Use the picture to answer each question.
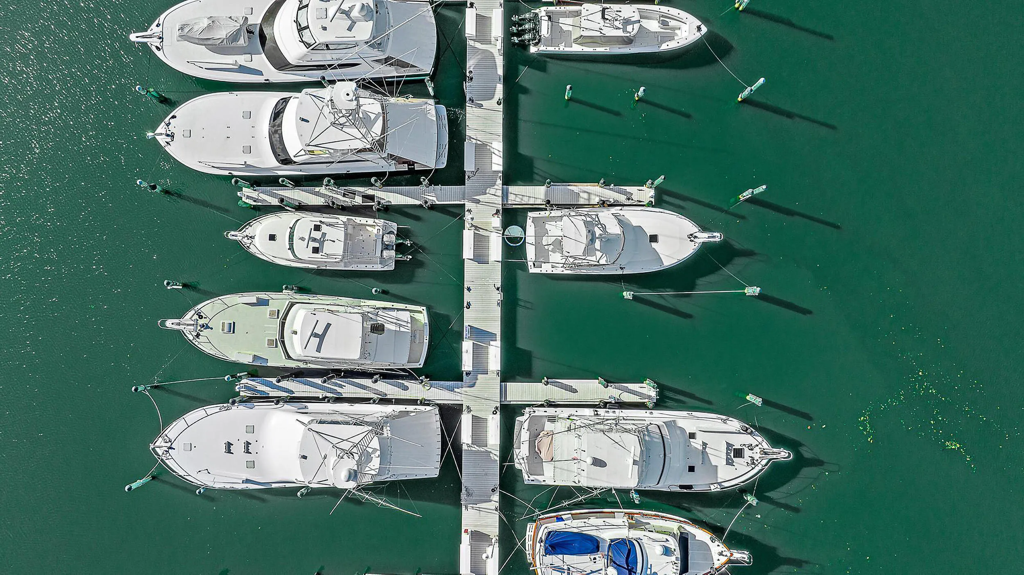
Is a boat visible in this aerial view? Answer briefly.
Yes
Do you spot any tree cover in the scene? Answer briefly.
No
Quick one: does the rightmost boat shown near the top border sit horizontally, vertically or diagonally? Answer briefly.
horizontally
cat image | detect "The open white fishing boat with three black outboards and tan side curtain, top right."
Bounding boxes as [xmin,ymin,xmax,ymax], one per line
[511,4,708,57]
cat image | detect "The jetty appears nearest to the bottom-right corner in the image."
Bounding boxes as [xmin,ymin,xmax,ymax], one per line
[501,378,659,404]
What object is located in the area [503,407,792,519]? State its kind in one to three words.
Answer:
boat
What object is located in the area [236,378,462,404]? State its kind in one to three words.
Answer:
pier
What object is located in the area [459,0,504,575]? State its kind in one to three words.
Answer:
pier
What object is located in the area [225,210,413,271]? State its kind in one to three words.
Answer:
boat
